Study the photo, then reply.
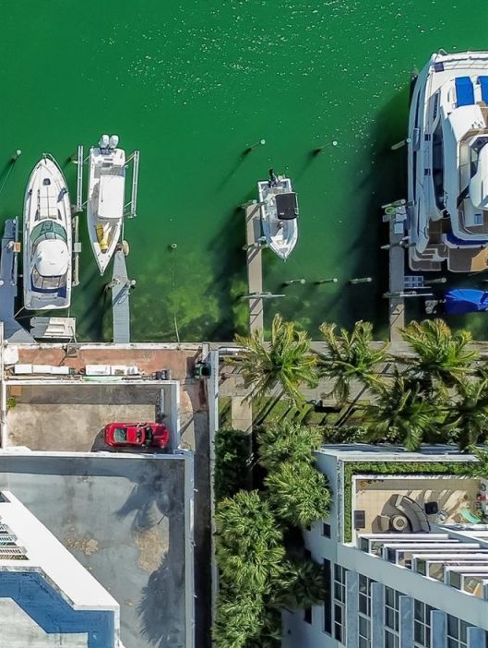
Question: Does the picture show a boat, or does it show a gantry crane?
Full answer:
It is a boat that can be seen here.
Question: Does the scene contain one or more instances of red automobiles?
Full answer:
Yes, a red automobile can be made out from above.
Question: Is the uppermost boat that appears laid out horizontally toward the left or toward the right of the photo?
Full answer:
You can find the uppermost boat that appears laid out horizontally on the right side of the picture.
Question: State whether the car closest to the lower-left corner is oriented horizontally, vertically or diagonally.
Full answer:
What the image shows is the car closest to the lower-left corner lying horizontally.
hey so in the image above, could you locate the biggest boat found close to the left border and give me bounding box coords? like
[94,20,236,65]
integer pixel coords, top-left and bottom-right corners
[23,155,72,311]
